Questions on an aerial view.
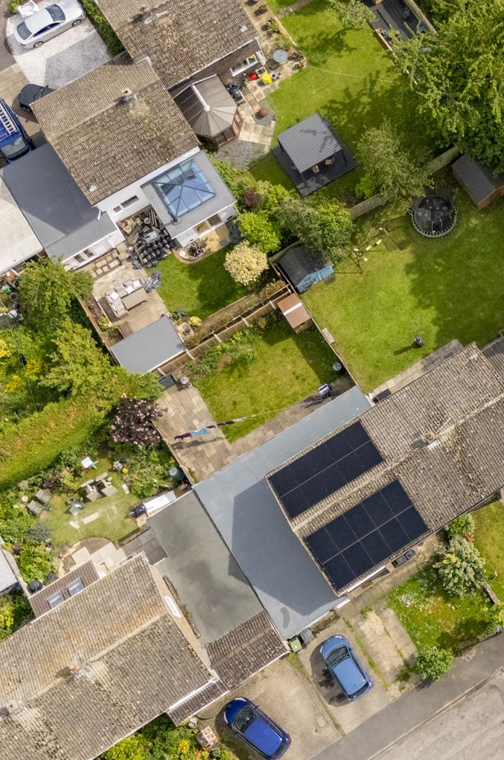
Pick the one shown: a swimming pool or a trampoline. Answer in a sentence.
Visible in the photo is a trampoline.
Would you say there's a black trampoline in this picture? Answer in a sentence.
Yes, a black trampoline is visible in the scene.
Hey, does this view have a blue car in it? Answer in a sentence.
Yes, the photo shows a blue car.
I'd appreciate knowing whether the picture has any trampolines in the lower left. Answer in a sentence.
No, no trampoline is visible in the lower left.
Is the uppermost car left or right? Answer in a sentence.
The uppermost car sits on the left side.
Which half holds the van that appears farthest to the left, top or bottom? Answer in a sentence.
Seen from above, the van that appears farthest to the left lies in the top half of the view.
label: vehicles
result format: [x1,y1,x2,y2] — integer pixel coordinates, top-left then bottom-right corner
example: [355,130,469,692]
[0,95,32,166]
[227,695,292,760]
[19,76,65,112]
[321,633,374,705]
[13,5,89,53]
